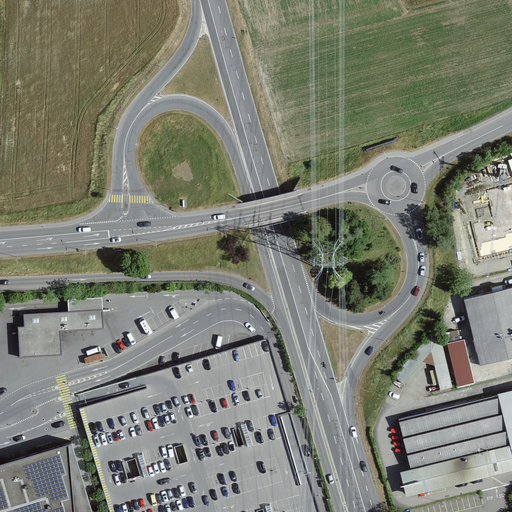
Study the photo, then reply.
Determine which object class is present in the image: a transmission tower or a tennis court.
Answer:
transmission tower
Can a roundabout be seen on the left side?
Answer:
No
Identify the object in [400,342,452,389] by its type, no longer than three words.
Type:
shed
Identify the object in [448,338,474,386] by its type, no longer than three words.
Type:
building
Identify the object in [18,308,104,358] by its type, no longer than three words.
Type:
building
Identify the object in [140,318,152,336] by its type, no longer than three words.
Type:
vehicle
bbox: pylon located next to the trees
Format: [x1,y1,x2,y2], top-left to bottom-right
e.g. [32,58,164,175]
[304,241,352,280]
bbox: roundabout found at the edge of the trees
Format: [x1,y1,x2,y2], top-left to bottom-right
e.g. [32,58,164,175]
[367,156,425,214]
